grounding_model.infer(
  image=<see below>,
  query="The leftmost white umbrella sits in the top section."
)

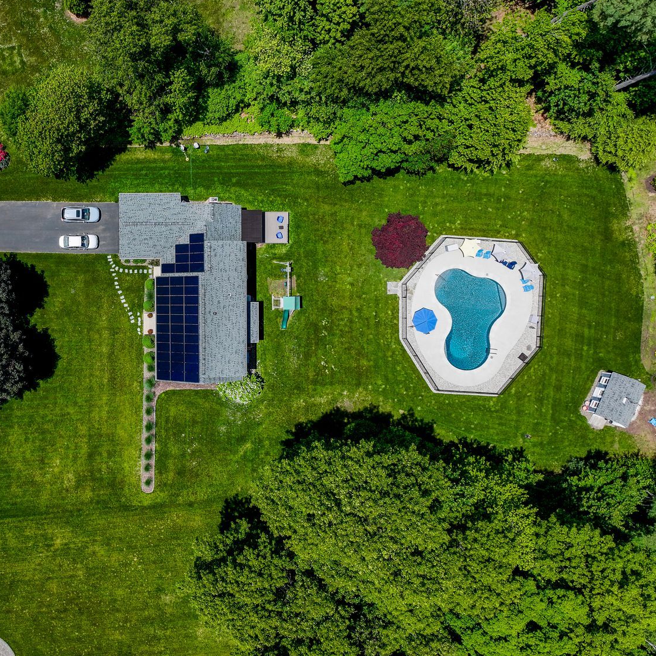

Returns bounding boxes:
[458,238,480,257]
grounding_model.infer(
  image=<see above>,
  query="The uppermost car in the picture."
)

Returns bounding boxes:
[61,205,101,223]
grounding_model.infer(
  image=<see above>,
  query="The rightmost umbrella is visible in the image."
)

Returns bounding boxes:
[519,261,540,284]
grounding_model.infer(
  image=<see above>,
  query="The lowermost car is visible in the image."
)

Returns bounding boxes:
[59,231,99,250]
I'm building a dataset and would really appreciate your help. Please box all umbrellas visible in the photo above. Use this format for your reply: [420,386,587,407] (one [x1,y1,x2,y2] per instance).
[458,238,480,257]
[519,261,540,284]
[406,308,436,333]
[491,240,514,263]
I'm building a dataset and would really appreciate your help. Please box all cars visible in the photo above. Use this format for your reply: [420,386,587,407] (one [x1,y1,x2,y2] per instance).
[61,205,101,223]
[59,231,99,250]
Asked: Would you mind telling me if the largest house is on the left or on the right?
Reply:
left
